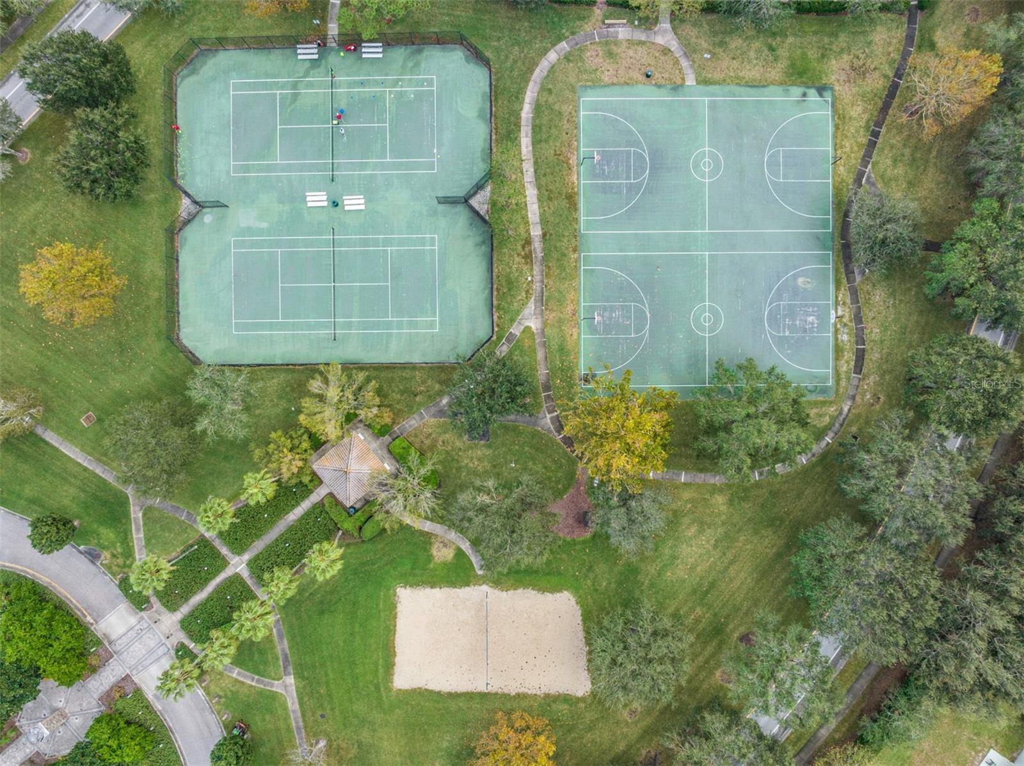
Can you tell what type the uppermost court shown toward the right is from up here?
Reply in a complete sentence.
In the photo, the uppermost court shown toward the right shows up as a basketball court.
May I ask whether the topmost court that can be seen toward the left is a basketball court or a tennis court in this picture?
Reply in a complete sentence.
The topmost court that can be seen toward the left appears to be a tennis court.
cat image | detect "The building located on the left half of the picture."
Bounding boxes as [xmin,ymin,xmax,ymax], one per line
[313,431,389,508]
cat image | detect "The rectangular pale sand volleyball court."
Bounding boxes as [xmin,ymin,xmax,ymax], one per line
[394,585,591,696]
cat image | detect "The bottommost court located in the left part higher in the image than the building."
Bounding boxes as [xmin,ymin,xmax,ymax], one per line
[178,200,493,364]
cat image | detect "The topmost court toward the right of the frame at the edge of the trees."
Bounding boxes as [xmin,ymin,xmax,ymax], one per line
[579,86,834,242]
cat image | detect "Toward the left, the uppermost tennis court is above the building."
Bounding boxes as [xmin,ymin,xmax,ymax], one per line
[177,43,490,205]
